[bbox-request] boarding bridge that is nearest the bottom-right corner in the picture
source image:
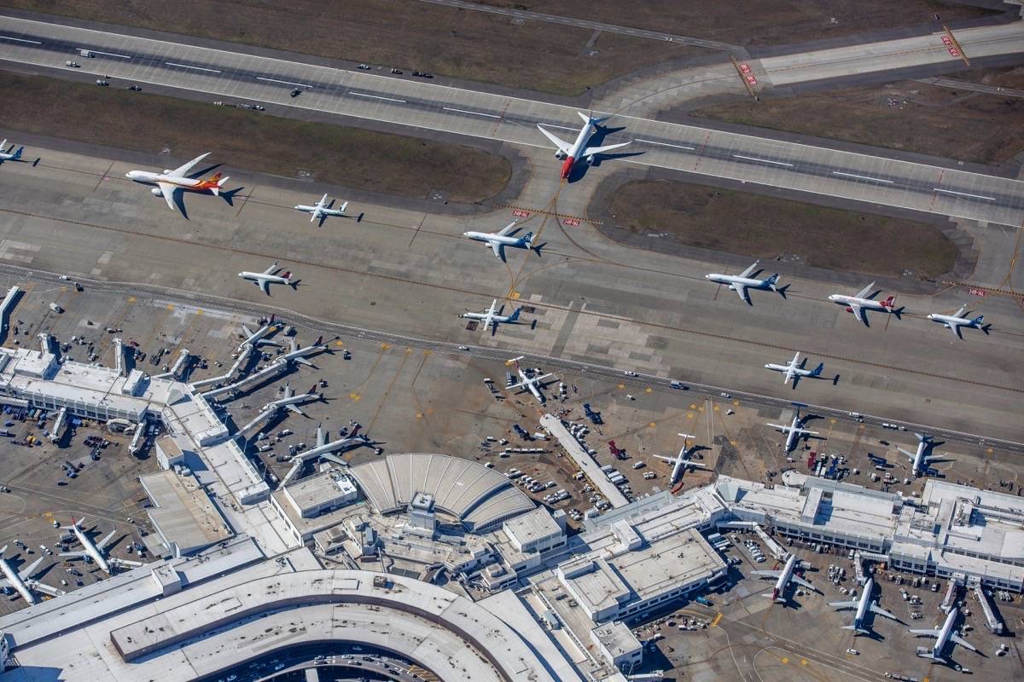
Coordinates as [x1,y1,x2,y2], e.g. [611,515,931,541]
[973,587,1004,638]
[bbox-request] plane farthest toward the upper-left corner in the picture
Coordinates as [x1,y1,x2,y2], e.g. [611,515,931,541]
[0,138,23,159]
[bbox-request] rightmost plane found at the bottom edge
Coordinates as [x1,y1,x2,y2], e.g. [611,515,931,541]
[908,607,978,661]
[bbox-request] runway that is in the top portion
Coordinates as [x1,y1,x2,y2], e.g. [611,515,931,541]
[0,15,1024,226]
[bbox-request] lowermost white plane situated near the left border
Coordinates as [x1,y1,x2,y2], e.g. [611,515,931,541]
[0,549,44,604]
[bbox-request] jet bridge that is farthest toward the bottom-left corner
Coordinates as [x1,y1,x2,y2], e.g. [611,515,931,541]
[25,578,66,597]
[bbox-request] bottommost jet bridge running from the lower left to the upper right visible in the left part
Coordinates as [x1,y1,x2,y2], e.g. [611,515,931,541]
[274,462,304,492]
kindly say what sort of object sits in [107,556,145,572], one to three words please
jet bridge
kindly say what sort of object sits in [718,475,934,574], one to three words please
building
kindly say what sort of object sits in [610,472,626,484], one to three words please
vehicle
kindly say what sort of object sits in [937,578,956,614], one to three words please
jet bridge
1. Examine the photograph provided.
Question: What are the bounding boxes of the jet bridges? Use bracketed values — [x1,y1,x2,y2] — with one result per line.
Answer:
[230,408,278,444]
[937,578,956,614]
[274,462,304,492]
[128,424,145,460]
[973,587,1004,638]
[25,578,66,597]
[201,360,288,400]
[854,550,887,588]
[716,522,794,566]
[637,670,668,682]
[114,338,125,372]
[49,408,67,444]
[188,345,253,391]
[39,332,50,353]
[107,556,145,572]
[153,350,190,382]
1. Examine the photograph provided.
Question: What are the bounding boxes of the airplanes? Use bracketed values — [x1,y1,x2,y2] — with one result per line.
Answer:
[460,301,517,332]
[651,436,704,485]
[238,259,292,292]
[0,549,44,604]
[707,261,778,300]
[892,430,948,478]
[535,101,630,177]
[0,138,23,159]
[749,554,816,602]
[908,607,978,661]
[465,219,534,257]
[234,307,287,353]
[54,513,119,572]
[292,194,346,223]
[508,360,557,405]
[287,419,372,468]
[765,407,818,455]
[761,352,820,384]
[826,578,898,632]
[272,329,333,371]
[927,305,983,338]
[262,375,324,419]
[828,281,895,320]
[123,150,231,208]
